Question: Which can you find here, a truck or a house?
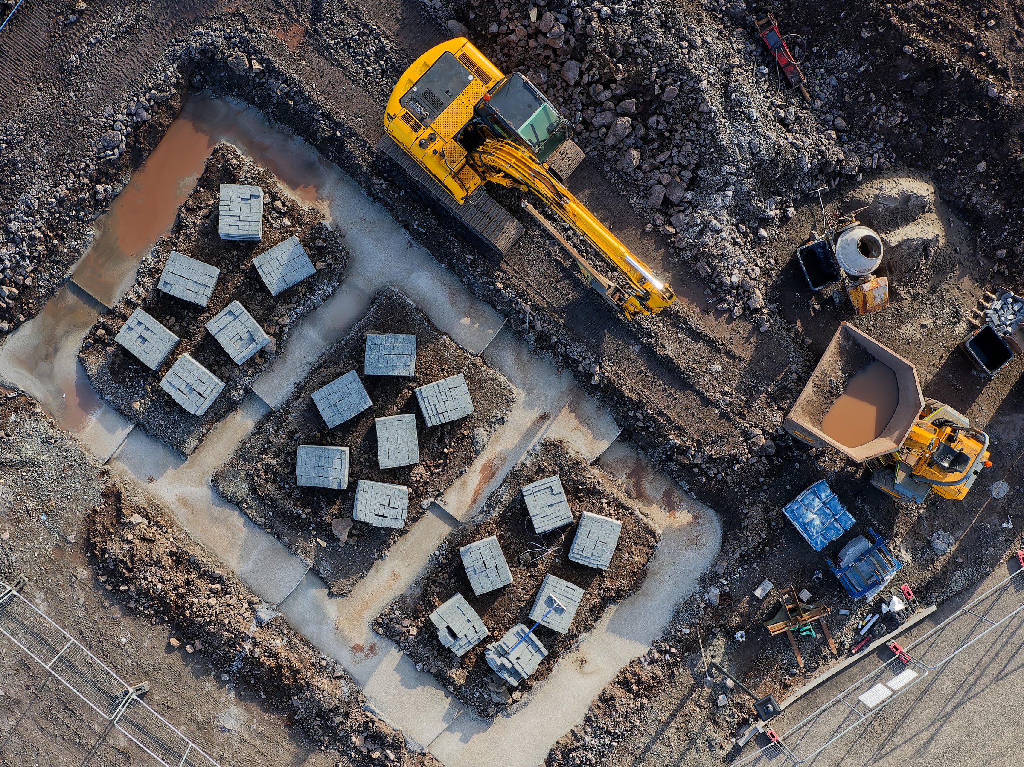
truck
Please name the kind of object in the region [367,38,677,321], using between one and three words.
work vehicle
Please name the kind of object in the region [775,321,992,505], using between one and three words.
truck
